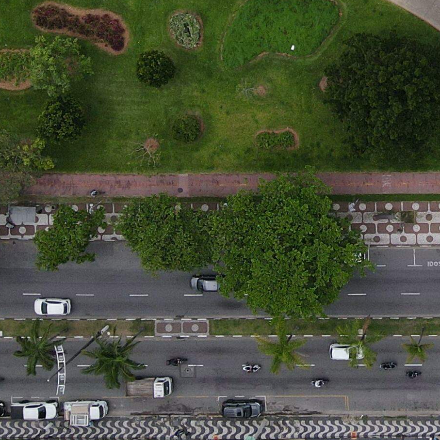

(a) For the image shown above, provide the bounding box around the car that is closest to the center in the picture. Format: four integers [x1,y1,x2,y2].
[188,276,224,295]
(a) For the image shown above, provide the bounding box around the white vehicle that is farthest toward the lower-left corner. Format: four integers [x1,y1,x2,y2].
[11,400,56,421]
